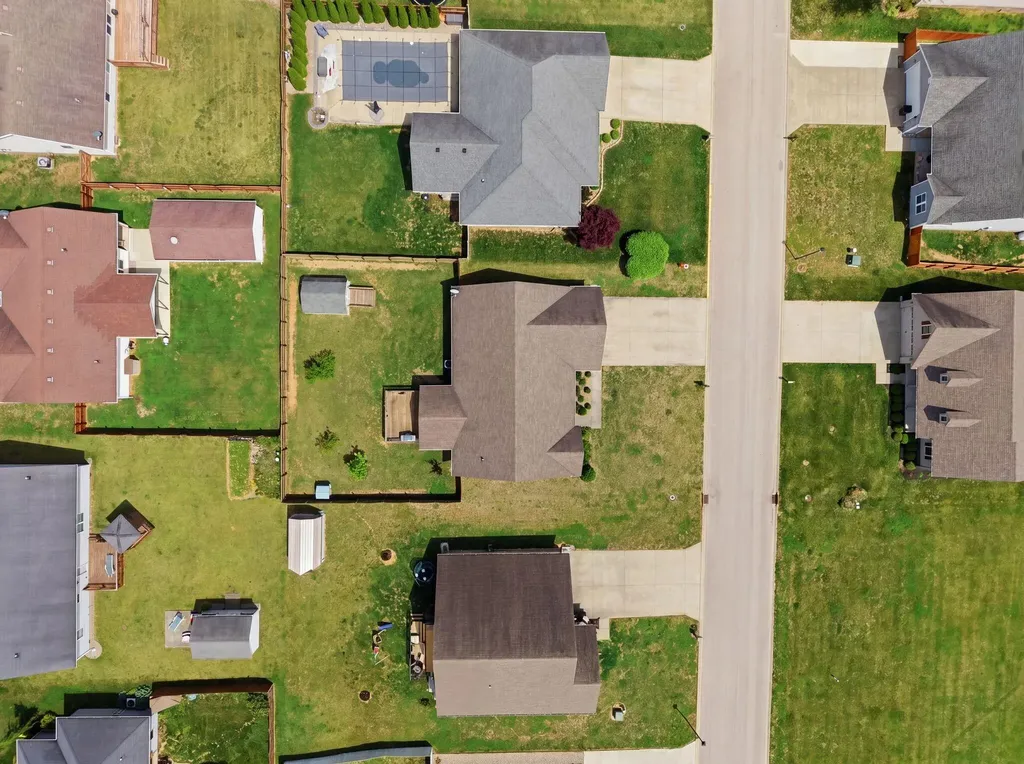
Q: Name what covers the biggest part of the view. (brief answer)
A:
grass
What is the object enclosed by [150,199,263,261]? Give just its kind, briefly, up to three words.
building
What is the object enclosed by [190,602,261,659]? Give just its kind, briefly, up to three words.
shed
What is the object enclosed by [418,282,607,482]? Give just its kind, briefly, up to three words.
house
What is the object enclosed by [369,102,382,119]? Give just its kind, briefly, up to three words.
umbrella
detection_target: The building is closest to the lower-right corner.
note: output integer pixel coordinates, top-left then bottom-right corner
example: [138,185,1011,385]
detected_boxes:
[894,290,1024,482]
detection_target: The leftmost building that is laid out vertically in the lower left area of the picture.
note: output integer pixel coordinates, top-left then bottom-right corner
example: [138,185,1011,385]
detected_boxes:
[0,462,96,677]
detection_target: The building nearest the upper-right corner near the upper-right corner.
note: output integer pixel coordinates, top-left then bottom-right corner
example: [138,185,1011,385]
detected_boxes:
[905,30,1024,229]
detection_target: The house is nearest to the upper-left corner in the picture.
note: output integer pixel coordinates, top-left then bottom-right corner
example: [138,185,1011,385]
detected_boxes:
[0,0,122,147]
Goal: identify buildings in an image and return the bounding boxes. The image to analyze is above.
[150,199,263,261]
[905,30,1024,229]
[894,290,1024,482]
[190,602,261,659]
[433,550,601,718]
[418,282,607,482]
[15,708,157,764]
[409,28,611,229]
[0,0,122,147]
[0,206,166,403]
[0,462,96,677]
[298,277,374,314]
[289,516,325,575]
